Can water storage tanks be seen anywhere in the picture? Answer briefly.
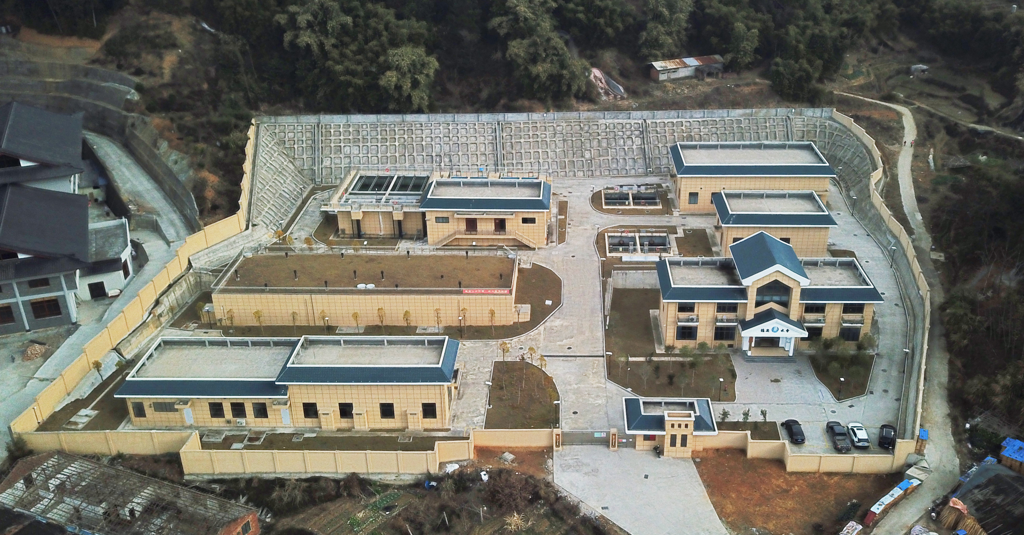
Yes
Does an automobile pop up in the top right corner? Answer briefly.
No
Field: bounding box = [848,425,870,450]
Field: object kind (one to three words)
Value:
car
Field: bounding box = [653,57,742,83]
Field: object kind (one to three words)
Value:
shed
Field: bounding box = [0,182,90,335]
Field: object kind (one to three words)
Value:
house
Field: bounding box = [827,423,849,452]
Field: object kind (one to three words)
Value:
truck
